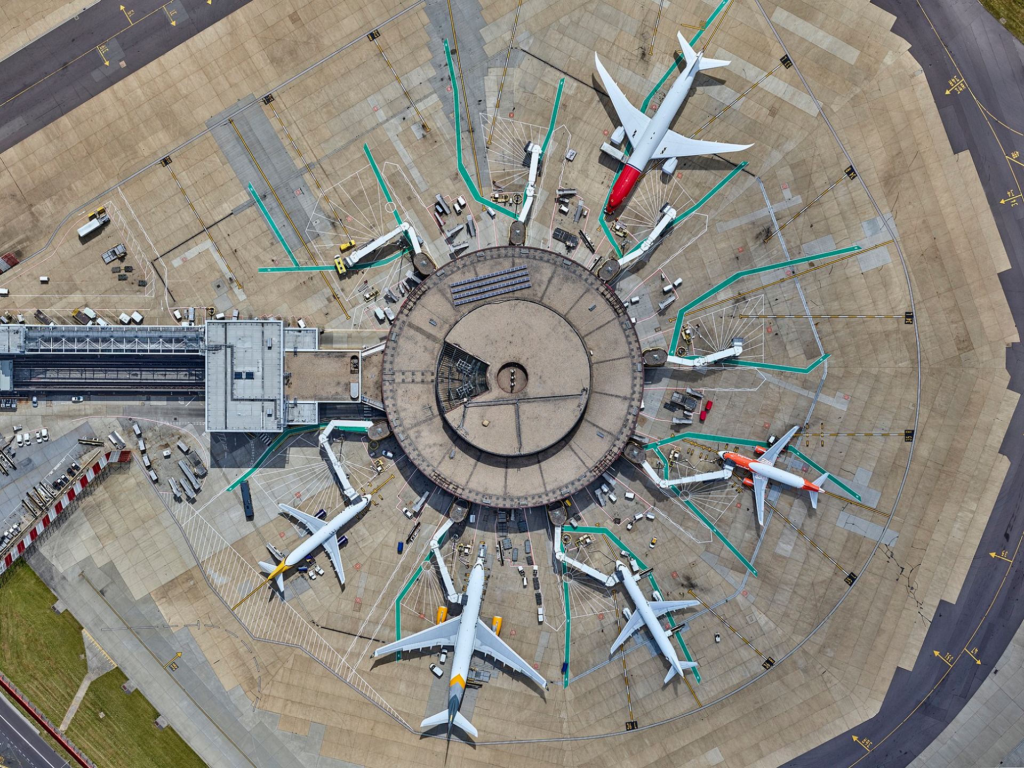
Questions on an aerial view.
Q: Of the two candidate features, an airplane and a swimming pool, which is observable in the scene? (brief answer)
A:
airplane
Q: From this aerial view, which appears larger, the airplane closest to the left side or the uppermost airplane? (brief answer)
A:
the uppermost airplane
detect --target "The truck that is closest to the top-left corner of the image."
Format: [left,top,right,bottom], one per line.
[73,213,112,239]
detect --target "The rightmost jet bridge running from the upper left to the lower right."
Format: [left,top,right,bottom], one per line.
[553,524,626,586]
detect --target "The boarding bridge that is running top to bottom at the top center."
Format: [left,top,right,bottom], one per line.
[516,141,542,224]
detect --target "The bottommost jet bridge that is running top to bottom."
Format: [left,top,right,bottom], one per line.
[429,519,469,602]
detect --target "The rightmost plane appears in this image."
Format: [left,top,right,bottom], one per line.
[718,427,829,529]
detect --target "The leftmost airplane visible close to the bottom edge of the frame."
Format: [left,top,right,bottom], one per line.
[369,558,551,745]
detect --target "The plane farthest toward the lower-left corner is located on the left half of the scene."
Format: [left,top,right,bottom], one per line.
[258,495,372,595]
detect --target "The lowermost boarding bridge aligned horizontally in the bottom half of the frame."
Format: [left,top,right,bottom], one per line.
[640,455,741,490]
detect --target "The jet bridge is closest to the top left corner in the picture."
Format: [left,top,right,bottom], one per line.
[344,221,426,275]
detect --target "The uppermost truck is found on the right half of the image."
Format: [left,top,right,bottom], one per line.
[601,143,631,164]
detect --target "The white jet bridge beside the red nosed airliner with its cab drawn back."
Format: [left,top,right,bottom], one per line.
[618,200,676,266]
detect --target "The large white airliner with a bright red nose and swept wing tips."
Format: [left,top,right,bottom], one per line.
[595,30,755,213]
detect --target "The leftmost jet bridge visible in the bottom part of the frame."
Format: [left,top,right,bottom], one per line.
[317,418,372,509]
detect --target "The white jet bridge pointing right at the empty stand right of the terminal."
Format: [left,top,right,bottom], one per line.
[665,335,745,367]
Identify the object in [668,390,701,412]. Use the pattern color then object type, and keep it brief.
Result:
gray work vehicle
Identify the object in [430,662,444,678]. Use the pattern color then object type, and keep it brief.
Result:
white vehicle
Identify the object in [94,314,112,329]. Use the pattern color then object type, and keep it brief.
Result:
white vehicle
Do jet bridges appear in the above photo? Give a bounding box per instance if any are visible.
[317,418,372,509]
[429,519,469,602]
[516,141,542,224]
[665,335,745,367]
[640,455,741,490]
[553,524,626,586]
[344,221,426,275]
[618,200,676,266]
